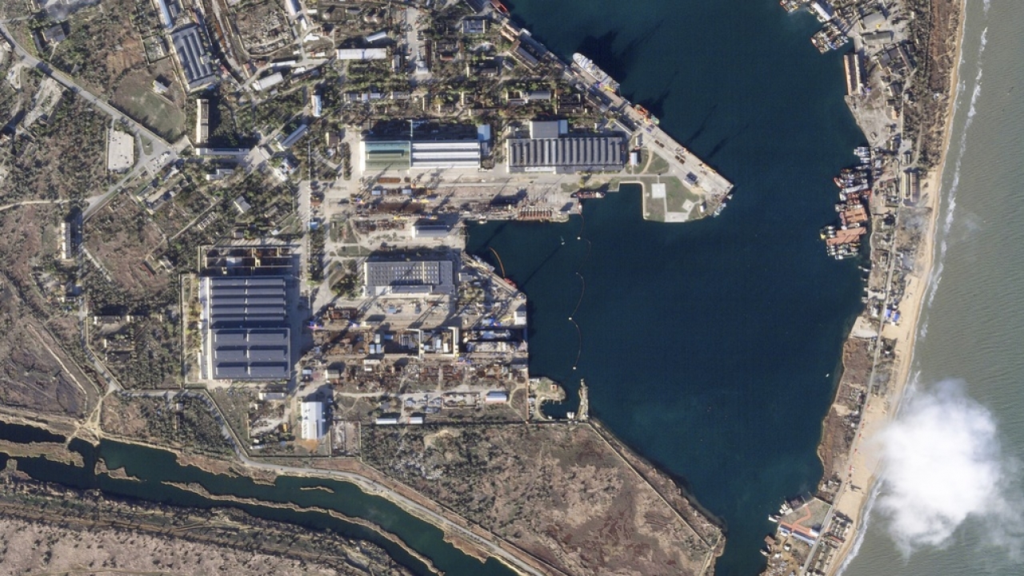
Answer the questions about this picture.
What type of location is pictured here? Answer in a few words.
port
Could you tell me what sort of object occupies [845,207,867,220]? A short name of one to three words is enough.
ship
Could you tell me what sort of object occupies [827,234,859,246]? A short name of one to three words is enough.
ship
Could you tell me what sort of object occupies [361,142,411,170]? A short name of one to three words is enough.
building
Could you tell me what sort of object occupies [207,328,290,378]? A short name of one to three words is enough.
building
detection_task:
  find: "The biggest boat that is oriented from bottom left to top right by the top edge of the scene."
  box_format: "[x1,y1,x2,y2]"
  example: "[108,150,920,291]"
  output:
[813,22,838,40]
